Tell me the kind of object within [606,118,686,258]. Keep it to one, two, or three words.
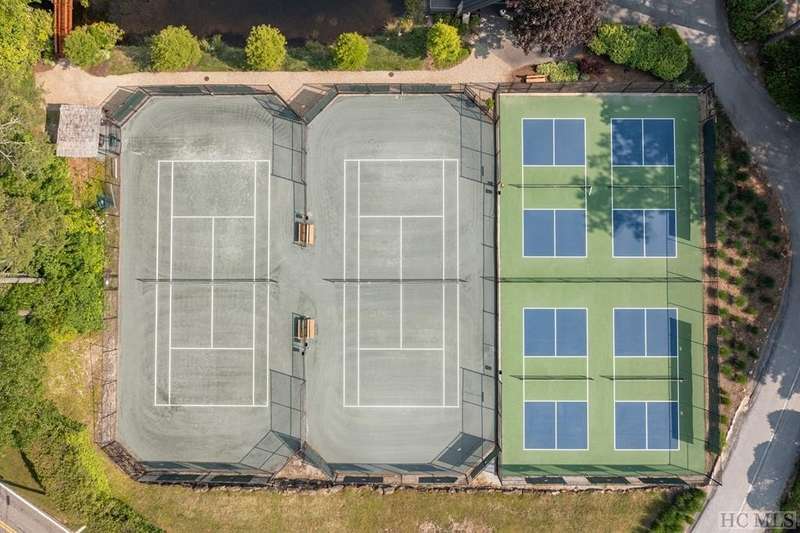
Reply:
sports court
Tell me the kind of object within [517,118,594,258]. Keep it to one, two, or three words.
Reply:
sports court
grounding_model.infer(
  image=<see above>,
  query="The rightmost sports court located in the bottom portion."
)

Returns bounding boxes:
[609,308,689,450]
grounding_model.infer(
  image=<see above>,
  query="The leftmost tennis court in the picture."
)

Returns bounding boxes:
[116,95,305,473]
